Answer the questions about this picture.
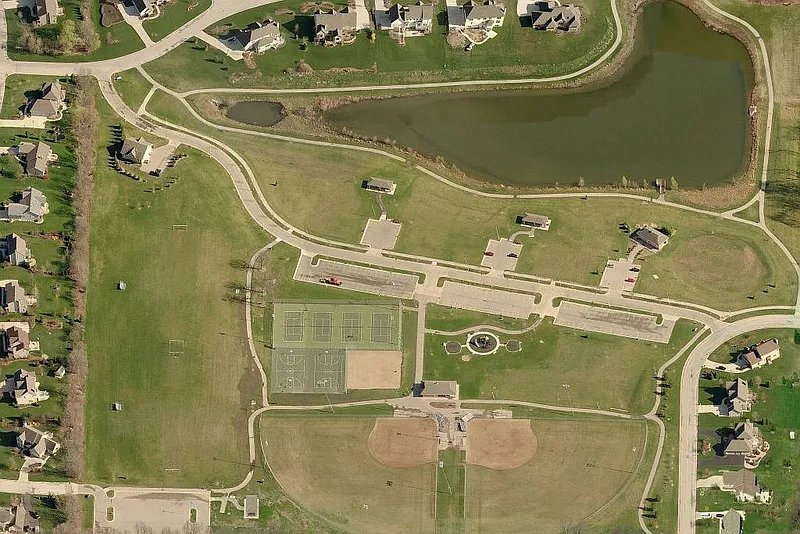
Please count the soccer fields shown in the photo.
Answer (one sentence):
My tally gives 2 soccer fields in this view.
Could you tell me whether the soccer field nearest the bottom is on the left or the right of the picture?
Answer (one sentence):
It is on the left.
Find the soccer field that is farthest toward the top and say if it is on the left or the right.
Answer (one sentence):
The soccer field that is farthest toward the top sits on the left side.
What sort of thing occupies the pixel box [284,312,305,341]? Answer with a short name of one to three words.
tennis court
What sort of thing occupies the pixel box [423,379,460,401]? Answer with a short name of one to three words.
building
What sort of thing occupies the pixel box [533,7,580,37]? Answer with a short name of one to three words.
house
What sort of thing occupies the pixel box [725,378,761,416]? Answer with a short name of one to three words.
house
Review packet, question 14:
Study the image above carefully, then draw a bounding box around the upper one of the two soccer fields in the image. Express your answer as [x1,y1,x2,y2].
[133,229,227,340]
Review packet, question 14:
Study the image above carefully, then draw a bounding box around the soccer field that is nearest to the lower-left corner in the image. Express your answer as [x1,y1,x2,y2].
[133,353,227,469]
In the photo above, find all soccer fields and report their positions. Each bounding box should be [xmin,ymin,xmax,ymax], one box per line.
[133,229,227,340]
[133,353,227,469]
